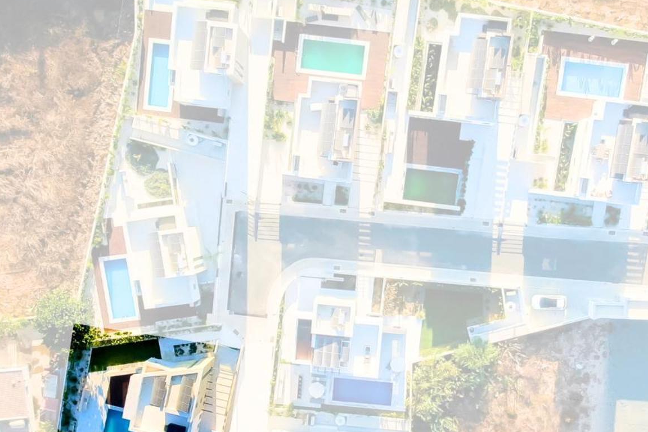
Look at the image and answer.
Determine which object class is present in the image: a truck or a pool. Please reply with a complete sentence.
I can see a pool in this picture.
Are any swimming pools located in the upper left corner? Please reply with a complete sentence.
Yes, I can see a swimming pool in the upper left corner.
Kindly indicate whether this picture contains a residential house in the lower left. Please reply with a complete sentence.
Yes, the scene does show a residential house in the lower left.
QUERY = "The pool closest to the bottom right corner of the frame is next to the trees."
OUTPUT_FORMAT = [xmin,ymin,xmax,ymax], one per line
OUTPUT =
[327,374,396,407]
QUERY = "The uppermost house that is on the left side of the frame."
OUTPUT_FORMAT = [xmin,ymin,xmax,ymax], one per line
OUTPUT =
[169,2,249,115]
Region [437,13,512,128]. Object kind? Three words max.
house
